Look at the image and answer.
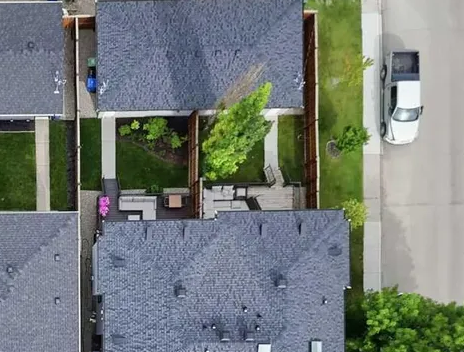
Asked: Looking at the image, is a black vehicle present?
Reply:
No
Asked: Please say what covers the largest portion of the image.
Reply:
buildings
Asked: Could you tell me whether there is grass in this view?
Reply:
Yes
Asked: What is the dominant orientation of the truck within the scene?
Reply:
up and down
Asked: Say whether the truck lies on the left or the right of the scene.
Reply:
right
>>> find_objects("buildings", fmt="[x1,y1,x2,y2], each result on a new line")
[0,1,65,123]
[0,210,83,352]
[91,209,351,352]
[95,0,308,118]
